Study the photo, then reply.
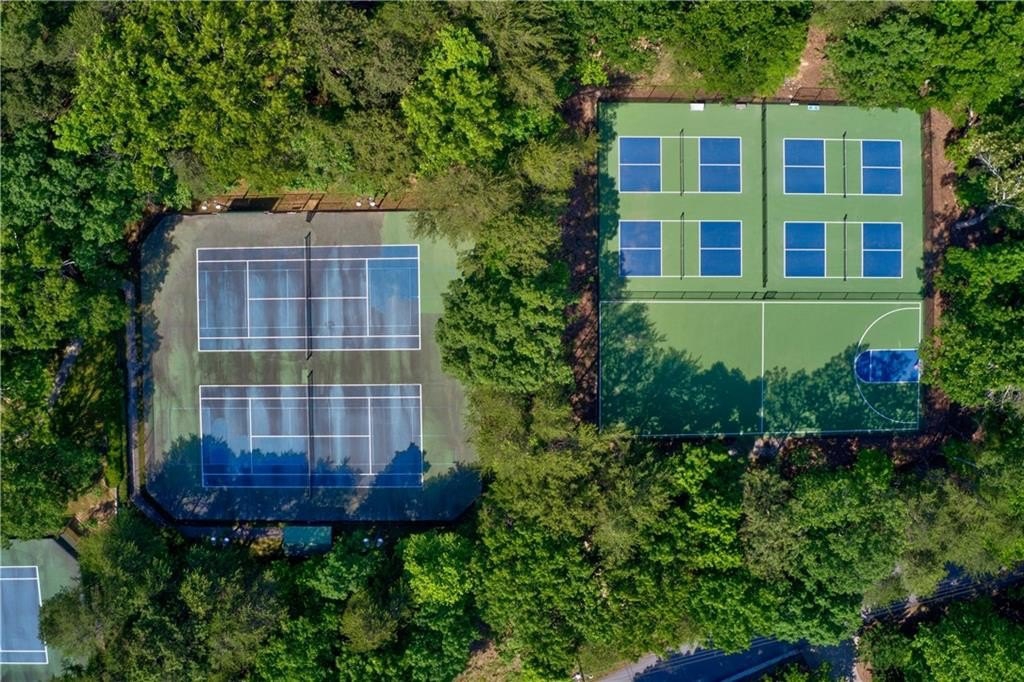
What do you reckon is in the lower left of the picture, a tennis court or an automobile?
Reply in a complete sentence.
The feature located in the lower left of the picture is a tennis court.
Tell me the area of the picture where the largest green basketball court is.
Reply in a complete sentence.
The largest green basketball court sits in the right section of the image.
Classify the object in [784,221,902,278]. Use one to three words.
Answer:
sports court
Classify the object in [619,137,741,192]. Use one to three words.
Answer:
sports court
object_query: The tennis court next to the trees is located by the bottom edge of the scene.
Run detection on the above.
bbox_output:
[0,566,47,664]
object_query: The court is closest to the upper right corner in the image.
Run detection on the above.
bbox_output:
[784,138,901,195]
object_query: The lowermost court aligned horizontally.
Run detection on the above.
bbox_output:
[200,384,423,488]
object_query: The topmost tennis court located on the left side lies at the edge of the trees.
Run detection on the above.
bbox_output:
[197,245,421,352]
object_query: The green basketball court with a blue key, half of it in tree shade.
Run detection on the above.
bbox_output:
[598,299,921,436]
